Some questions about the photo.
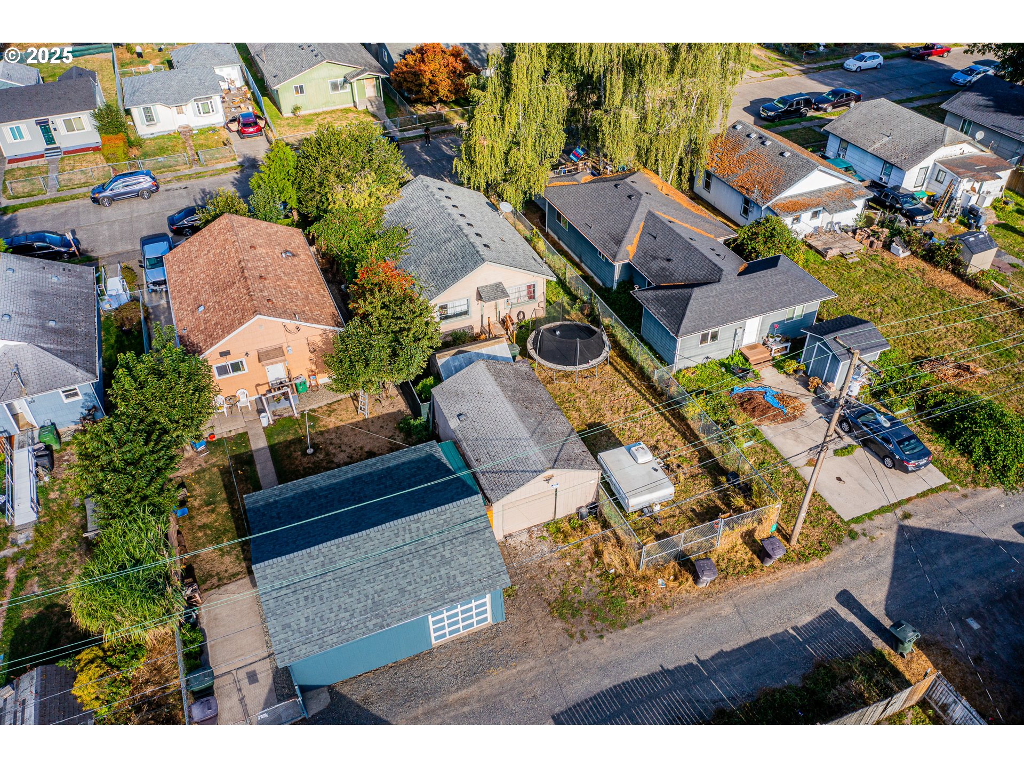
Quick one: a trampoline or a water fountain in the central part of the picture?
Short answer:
trampoline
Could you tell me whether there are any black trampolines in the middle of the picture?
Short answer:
Yes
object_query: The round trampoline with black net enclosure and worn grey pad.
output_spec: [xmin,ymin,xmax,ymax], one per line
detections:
[526,301,603,381]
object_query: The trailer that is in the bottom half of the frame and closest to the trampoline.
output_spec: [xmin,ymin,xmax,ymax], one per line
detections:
[591,426,679,525]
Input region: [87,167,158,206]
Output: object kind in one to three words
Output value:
car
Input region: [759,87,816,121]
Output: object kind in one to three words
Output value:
car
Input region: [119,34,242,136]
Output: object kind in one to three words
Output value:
house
